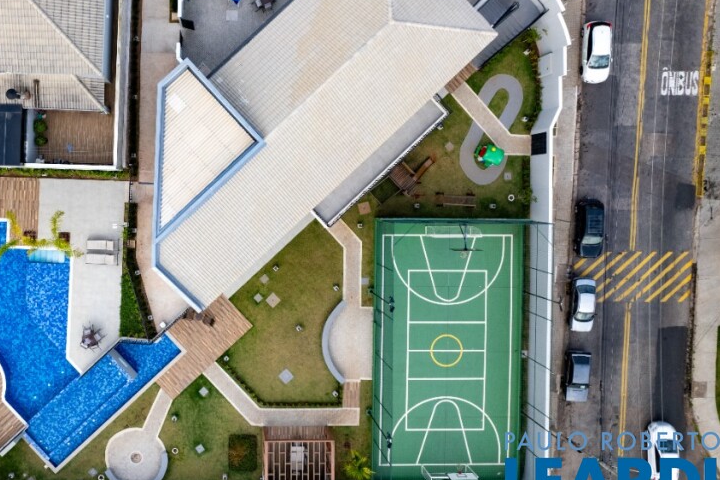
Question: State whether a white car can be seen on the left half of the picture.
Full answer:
No, no white car is visible on the left half of the picture.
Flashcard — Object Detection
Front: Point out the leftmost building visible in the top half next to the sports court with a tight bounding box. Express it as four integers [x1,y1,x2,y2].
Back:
[154,0,498,312]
